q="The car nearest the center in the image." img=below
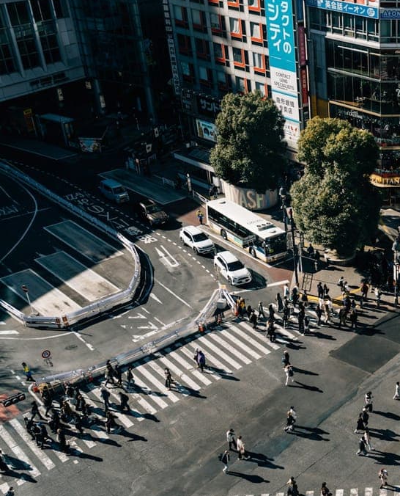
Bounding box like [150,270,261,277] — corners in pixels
[179,224,213,253]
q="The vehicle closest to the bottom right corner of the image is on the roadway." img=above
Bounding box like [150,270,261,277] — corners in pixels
[216,249,250,282]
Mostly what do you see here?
paved ground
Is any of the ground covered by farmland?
No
